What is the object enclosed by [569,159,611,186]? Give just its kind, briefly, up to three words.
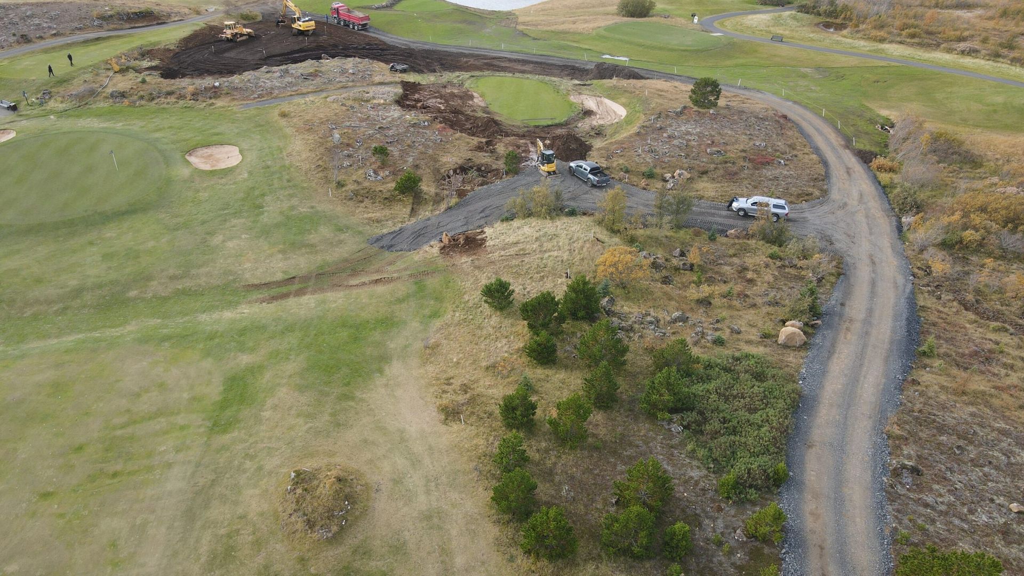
truck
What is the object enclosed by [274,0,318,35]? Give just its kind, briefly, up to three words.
work vehicle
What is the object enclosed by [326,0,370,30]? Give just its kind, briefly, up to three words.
truck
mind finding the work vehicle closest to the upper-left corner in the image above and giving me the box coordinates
[217,18,256,40]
